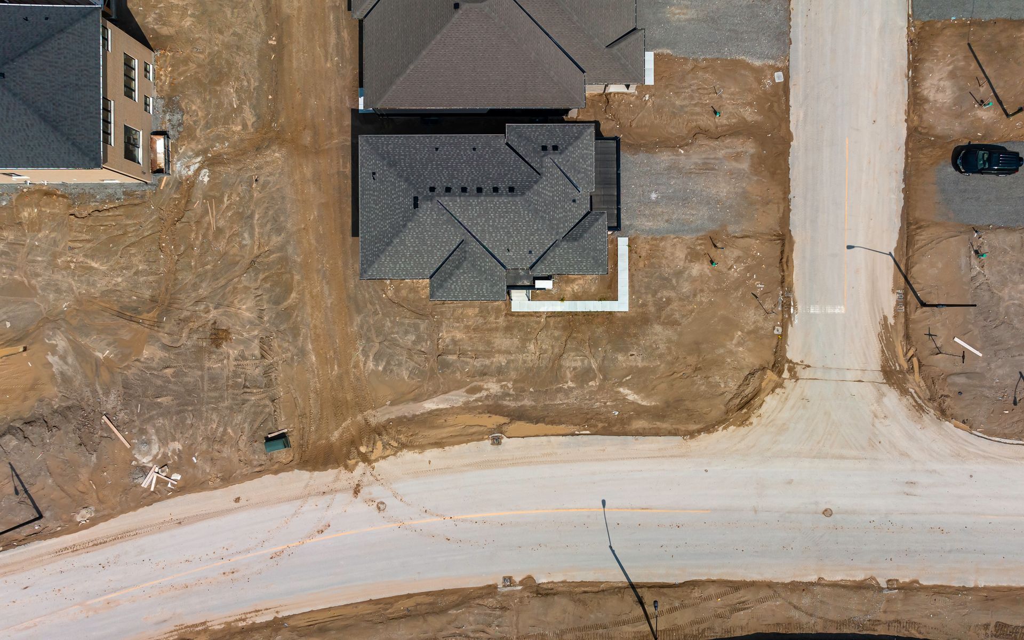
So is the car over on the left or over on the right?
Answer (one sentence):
The car sits on the right side.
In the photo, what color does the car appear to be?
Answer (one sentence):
In this view, the car is black.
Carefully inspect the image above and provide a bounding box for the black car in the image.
[957,146,1024,177]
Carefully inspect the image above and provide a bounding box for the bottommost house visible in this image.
[359,123,621,301]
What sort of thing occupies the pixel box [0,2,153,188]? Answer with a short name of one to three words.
house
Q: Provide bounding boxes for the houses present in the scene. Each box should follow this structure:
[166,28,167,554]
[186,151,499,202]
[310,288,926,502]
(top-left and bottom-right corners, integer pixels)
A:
[0,2,153,188]
[351,0,644,115]
[359,123,621,301]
